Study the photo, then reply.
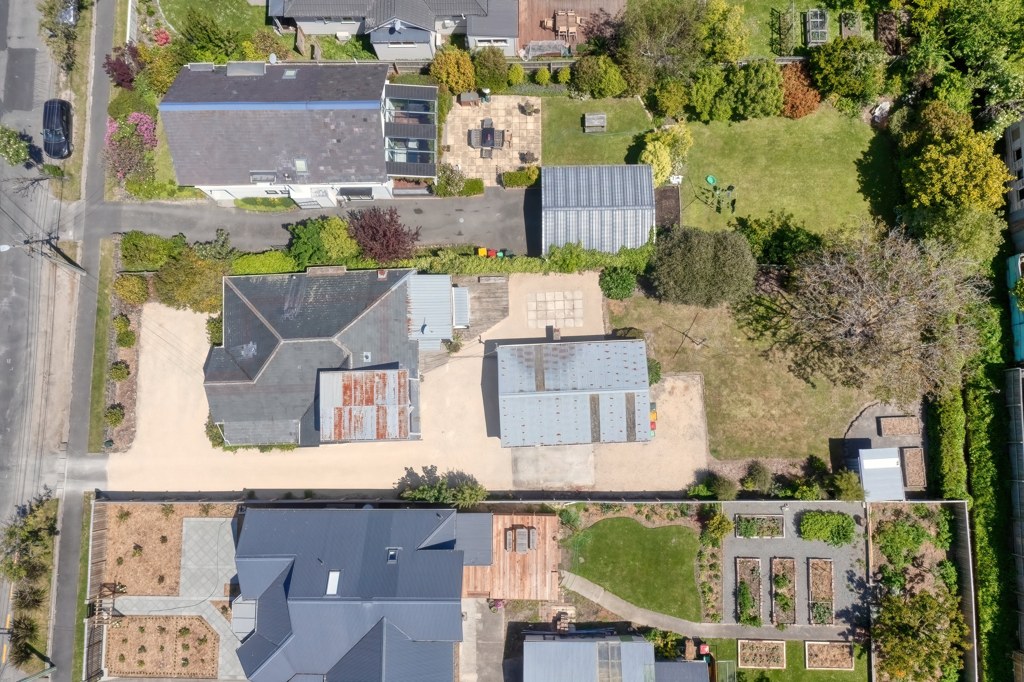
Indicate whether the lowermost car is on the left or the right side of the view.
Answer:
left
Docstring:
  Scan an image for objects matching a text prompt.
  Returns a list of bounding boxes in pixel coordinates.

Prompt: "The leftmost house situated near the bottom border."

[230,508,494,682]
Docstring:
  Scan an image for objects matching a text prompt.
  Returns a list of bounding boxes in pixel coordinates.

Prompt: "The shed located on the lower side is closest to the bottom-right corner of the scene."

[845,448,905,502]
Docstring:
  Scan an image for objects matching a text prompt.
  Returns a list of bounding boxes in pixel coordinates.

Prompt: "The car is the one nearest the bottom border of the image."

[39,97,77,161]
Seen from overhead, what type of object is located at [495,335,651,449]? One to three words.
building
